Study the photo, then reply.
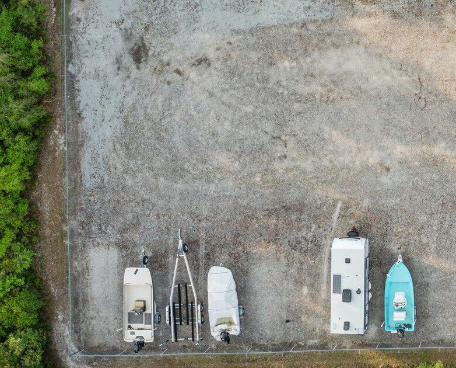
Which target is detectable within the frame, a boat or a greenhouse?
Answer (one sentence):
This aerial view contains a boat.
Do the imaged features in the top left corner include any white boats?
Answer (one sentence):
No, no white boat is visible in the top left corner.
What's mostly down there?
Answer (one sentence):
What you mostly see from above here is paved ground.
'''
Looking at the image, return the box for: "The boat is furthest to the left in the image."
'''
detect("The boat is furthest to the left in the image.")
[124,268,154,353]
